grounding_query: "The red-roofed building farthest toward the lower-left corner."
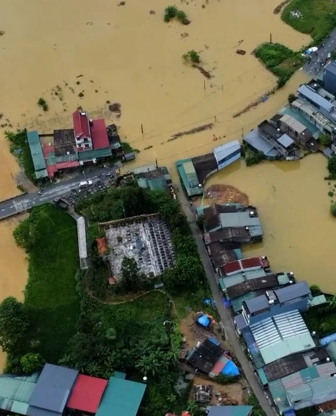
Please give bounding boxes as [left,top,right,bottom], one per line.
[68,374,108,416]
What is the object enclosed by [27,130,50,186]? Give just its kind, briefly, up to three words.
house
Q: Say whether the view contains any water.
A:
Yes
